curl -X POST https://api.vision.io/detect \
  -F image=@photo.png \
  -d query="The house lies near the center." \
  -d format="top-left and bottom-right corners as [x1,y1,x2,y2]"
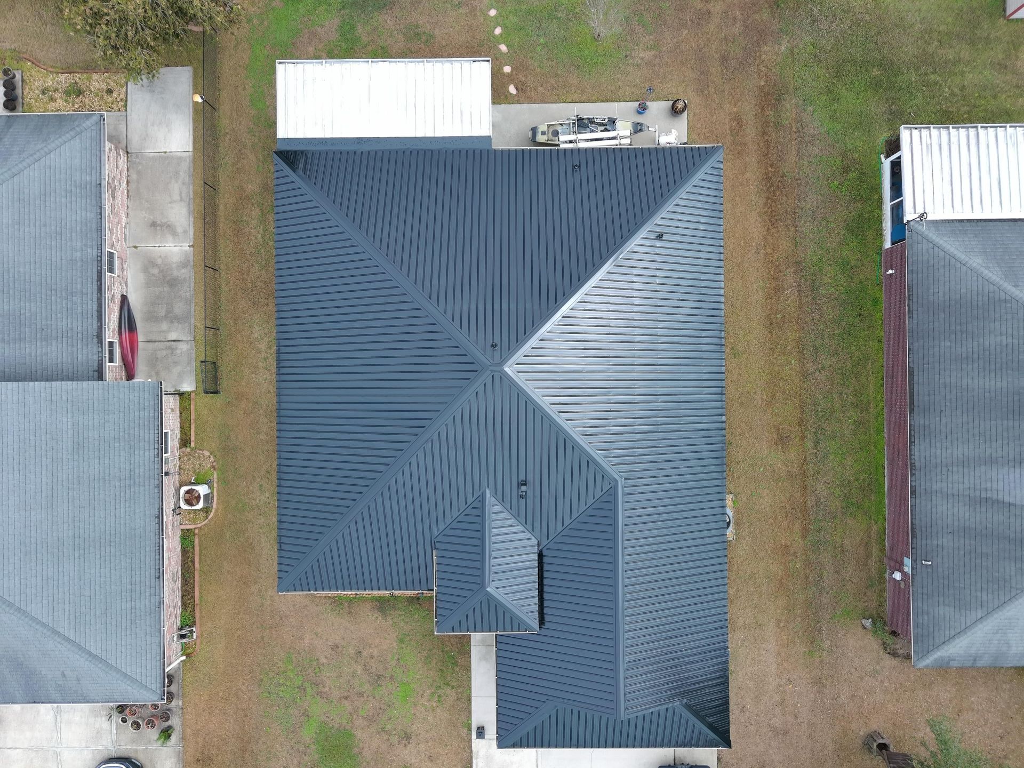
[273,136,733,751]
